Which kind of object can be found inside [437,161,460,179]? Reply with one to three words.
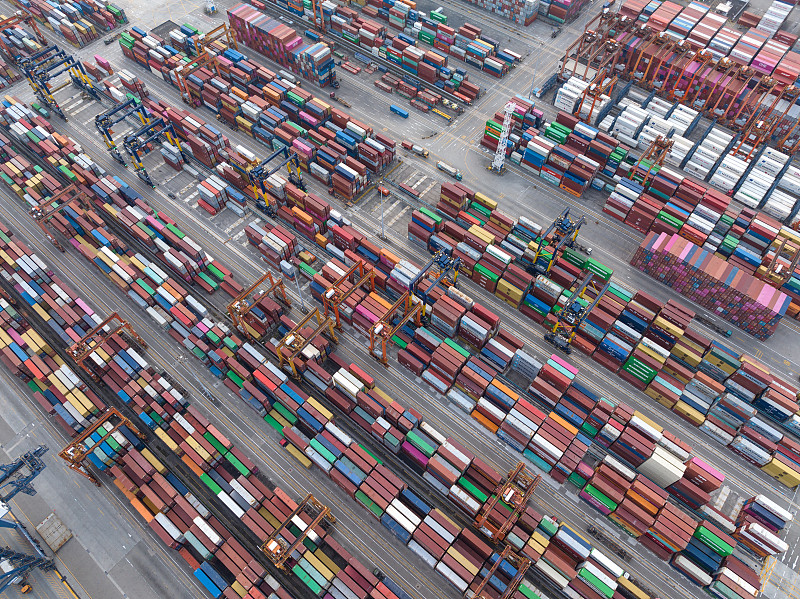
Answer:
vehicle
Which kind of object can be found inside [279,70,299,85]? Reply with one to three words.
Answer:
vehicle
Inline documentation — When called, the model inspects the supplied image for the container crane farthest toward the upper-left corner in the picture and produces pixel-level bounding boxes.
[0,11,55,66]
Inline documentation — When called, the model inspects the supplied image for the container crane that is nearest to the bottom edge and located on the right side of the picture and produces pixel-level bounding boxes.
[465,540,533,599]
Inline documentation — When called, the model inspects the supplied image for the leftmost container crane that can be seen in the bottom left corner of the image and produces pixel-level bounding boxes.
[0,437,59,587]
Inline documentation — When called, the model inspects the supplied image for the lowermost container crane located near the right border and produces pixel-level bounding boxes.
[759,238,800,294]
